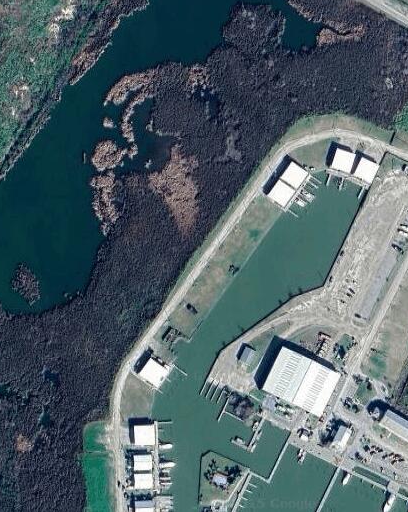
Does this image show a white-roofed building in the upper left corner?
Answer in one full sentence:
No, there's no white-roofed building to be seen in the upper left corner.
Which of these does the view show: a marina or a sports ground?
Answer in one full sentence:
The area seen from above is a marina.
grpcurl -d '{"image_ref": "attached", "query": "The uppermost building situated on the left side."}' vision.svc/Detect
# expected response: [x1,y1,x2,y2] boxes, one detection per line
[138,358,168,387]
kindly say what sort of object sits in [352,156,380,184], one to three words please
building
